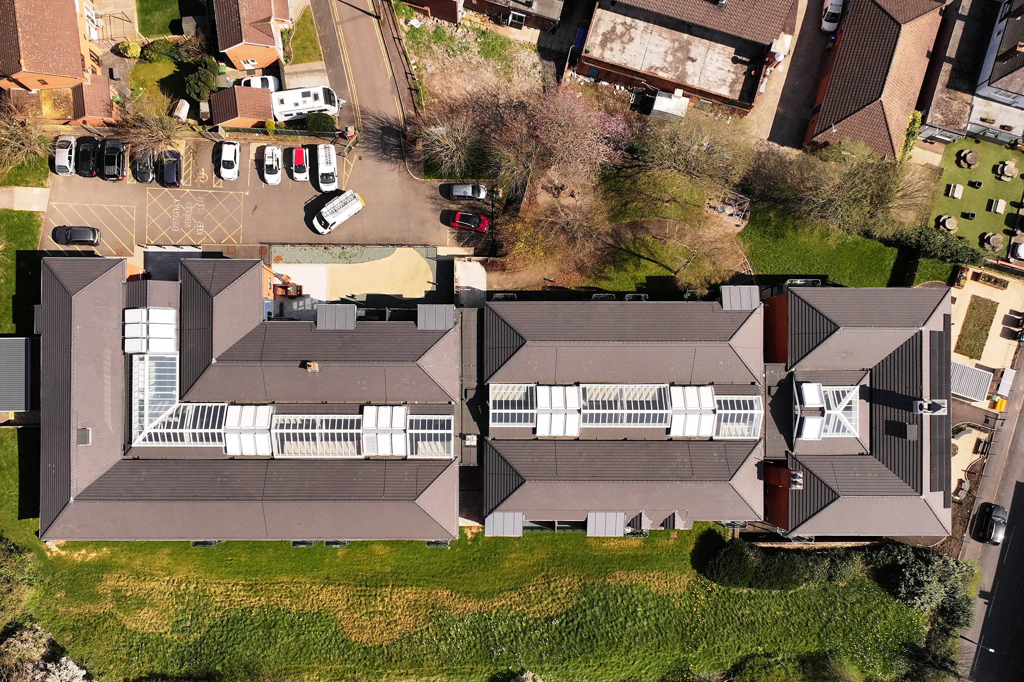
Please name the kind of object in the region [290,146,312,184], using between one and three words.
car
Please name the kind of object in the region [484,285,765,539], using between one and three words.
building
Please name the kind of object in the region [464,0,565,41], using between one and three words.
building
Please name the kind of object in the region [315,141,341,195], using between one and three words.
vehicle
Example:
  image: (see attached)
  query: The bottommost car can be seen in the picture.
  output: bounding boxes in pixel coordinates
[977,500,1010,547]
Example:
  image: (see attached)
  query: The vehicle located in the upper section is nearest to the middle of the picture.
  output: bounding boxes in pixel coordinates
[449,209,492,235]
